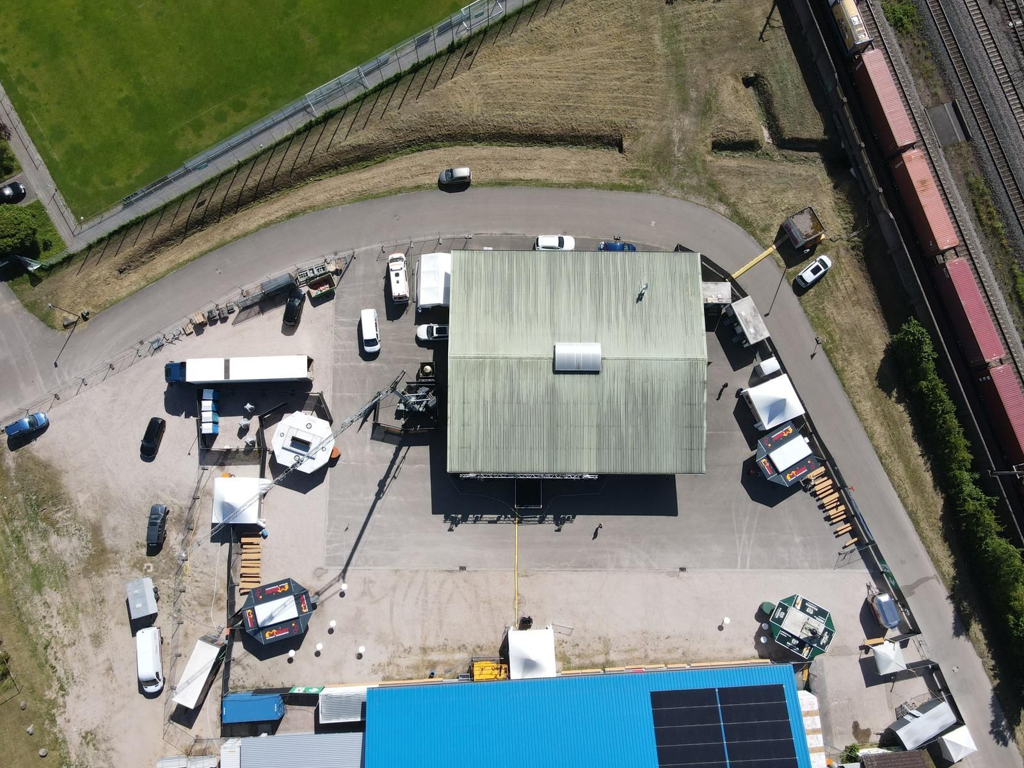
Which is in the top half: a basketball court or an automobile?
automobile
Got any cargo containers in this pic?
Yes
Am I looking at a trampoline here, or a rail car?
rail car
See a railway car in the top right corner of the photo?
Yes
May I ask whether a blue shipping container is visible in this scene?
Yes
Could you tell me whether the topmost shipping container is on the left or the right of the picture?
right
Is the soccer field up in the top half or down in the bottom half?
top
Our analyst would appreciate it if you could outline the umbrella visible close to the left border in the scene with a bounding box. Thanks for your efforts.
[11,253,51,271]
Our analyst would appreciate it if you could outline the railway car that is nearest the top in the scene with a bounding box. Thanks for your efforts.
[824,0,865,62]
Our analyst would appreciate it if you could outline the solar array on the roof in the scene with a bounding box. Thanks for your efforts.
[651,685,798,768]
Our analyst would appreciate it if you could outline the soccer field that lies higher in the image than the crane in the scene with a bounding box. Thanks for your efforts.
[0,0,482,219]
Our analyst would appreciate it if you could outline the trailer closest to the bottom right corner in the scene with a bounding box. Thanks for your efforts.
[877,686,956,749]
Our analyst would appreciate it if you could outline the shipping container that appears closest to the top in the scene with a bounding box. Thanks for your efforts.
[825,0,878,57]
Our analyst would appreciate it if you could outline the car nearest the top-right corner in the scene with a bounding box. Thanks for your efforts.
[793,254,832,289]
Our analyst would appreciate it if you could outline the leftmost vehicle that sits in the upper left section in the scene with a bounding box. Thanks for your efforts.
[0,182,26,203]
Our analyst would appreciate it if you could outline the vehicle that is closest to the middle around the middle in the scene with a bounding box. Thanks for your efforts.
[417,322,448,341]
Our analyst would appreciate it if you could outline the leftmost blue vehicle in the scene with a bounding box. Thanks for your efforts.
[2,412,51,440]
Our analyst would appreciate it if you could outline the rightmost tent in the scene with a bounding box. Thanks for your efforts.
[931,720,978,763]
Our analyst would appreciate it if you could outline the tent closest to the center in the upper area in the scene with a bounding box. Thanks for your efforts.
[419,249,450,318]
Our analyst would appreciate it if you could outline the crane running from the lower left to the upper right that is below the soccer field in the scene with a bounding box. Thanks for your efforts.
[181,370,445,561]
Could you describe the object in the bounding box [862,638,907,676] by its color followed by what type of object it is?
white tent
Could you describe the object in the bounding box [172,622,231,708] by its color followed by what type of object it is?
white trailer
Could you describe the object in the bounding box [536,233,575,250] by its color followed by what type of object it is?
white car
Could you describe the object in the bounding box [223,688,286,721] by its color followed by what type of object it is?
blue shipping container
